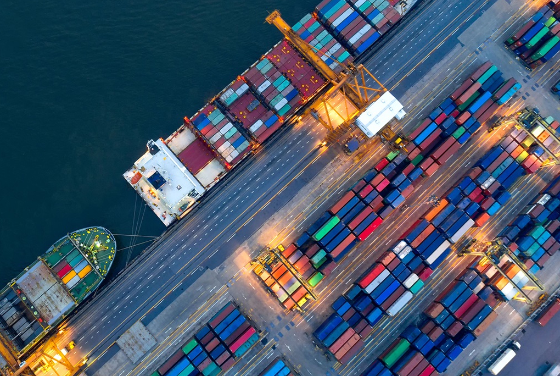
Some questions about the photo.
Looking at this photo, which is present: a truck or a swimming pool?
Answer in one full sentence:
The image shows a truck.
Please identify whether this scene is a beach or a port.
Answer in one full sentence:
What you see here is a port.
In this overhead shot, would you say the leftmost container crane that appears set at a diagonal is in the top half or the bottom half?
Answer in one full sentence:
The leftmost container crane that appears set at a diagonal is in the bottom half of the image.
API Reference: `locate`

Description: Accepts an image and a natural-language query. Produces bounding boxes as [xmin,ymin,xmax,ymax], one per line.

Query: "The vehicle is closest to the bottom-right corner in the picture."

[540,354,560,376]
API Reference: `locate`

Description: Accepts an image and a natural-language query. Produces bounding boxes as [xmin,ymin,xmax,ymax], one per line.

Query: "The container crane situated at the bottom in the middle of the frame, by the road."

[249,240,317,312]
